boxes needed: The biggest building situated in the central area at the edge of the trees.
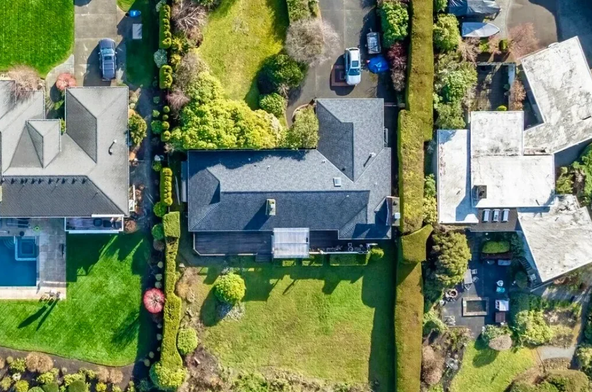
[179,97,399,267]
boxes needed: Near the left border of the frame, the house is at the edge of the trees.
[0,79,130,235]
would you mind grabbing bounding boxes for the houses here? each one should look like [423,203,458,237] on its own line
[0,79,130,235]
[179,97,399,267]
[432,36,592,282]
